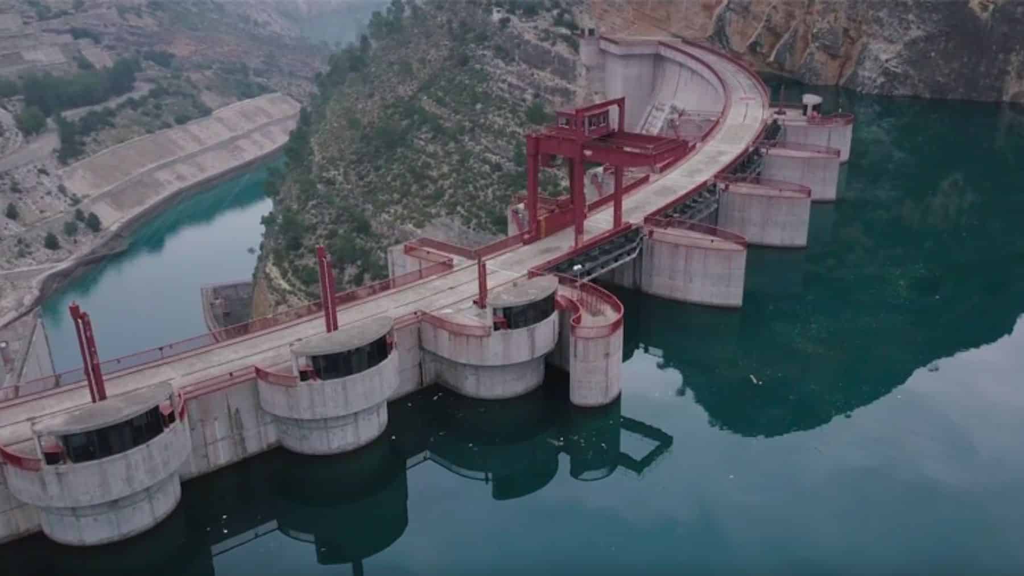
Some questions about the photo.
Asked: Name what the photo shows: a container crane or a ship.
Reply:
container crane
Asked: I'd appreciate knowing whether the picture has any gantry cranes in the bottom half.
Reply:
No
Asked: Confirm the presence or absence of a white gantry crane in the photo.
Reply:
No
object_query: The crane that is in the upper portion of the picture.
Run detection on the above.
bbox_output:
[524,92,702,248]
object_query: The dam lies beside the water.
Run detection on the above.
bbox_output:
[0,40,771,555]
